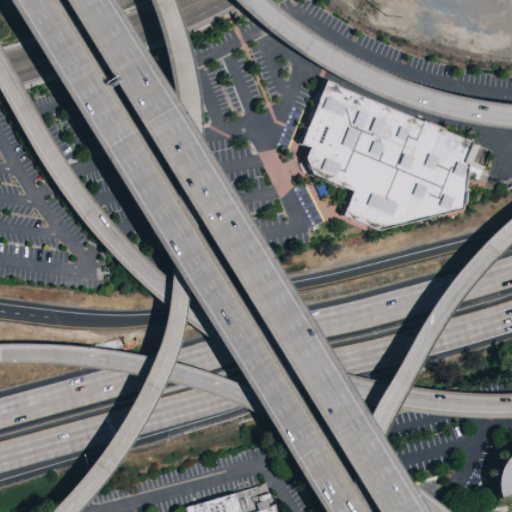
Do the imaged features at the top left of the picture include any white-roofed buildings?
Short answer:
No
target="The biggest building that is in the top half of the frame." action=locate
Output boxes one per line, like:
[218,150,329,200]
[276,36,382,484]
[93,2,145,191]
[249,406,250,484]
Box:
[303,81,472,228]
